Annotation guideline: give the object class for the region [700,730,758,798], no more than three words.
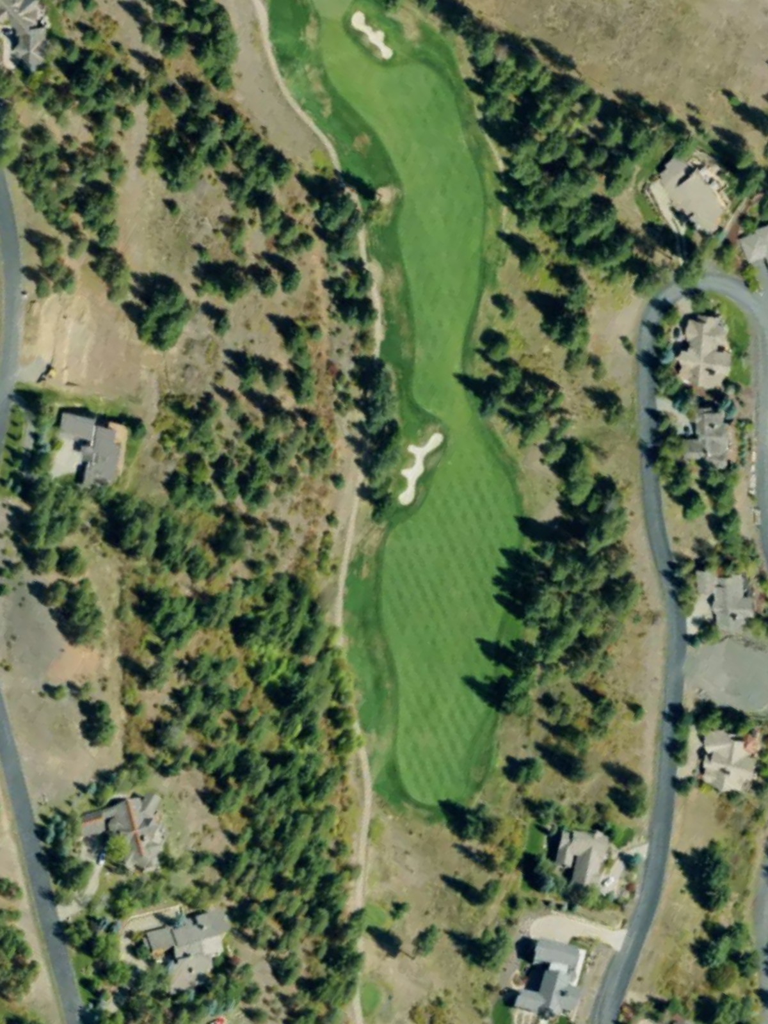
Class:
house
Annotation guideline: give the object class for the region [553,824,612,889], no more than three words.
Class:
house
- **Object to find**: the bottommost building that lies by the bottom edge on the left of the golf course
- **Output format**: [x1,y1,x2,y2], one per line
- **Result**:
[124,904,233,993]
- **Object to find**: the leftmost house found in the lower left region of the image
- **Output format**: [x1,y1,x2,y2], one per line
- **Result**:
[81,789,168,875]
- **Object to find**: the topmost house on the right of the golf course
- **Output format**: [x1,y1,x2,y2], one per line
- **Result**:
[658,157,732,240]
